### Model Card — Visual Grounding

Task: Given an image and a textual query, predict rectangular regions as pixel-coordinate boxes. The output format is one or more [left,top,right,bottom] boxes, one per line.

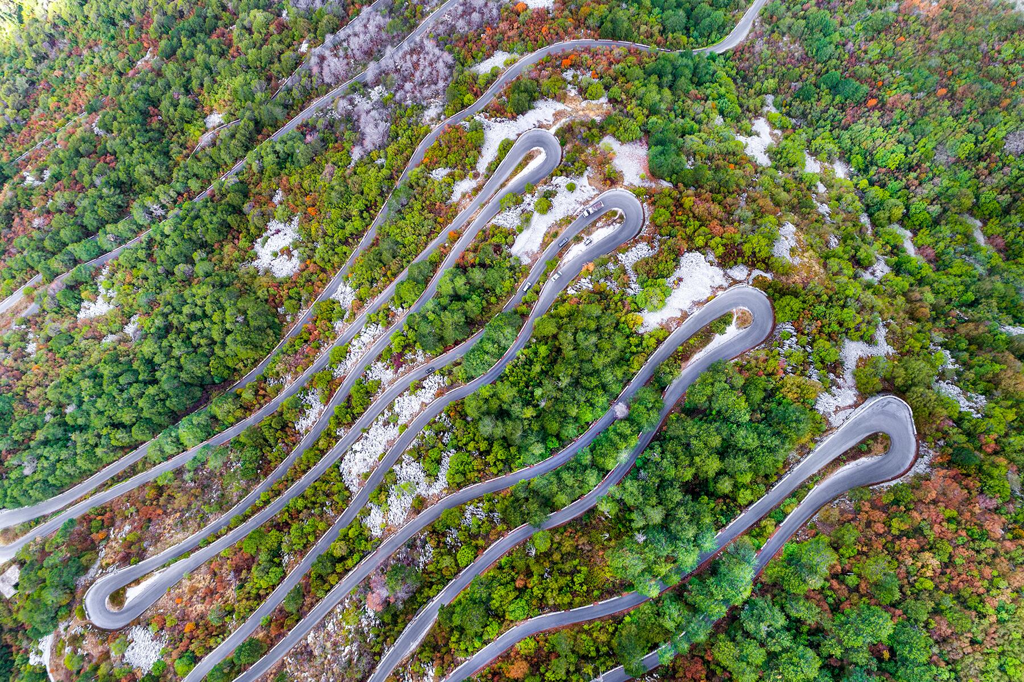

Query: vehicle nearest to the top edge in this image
[584,199,604,218]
